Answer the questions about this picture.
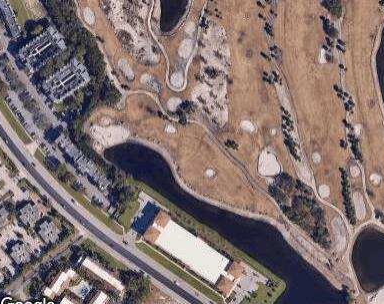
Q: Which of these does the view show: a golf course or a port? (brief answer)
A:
golf course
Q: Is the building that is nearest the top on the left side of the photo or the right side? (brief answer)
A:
left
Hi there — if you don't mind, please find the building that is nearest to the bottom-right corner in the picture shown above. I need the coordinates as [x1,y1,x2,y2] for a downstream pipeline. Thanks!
[144,209,246,299]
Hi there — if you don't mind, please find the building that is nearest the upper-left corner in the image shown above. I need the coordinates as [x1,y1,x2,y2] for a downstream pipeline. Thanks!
[0,0,22,39]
